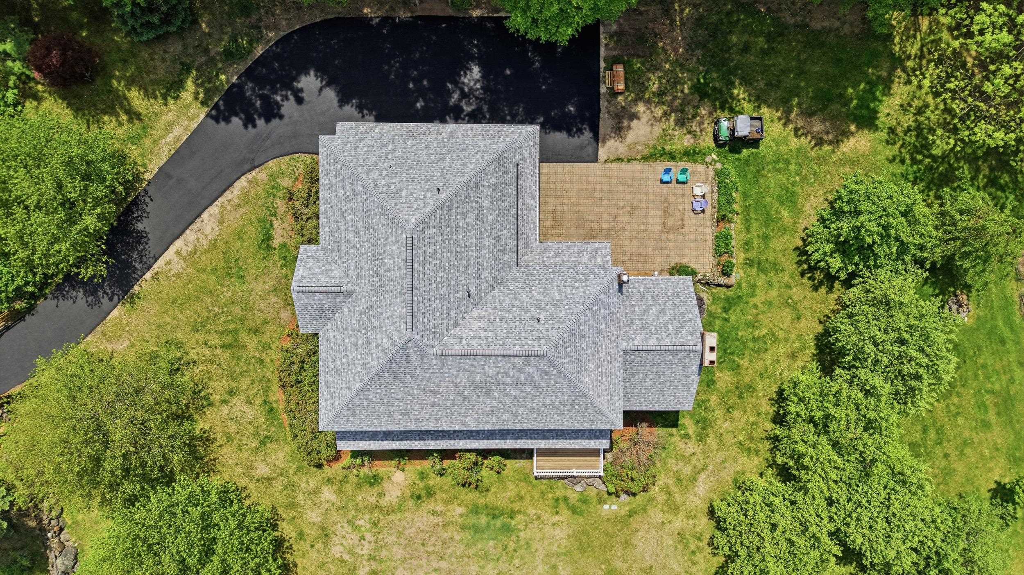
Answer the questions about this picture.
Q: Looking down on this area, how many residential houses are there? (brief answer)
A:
1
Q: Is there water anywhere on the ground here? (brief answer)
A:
No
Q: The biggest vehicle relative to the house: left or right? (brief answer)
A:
to the right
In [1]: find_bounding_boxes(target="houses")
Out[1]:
[292,122,715,477]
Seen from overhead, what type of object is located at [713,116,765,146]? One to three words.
vehicle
